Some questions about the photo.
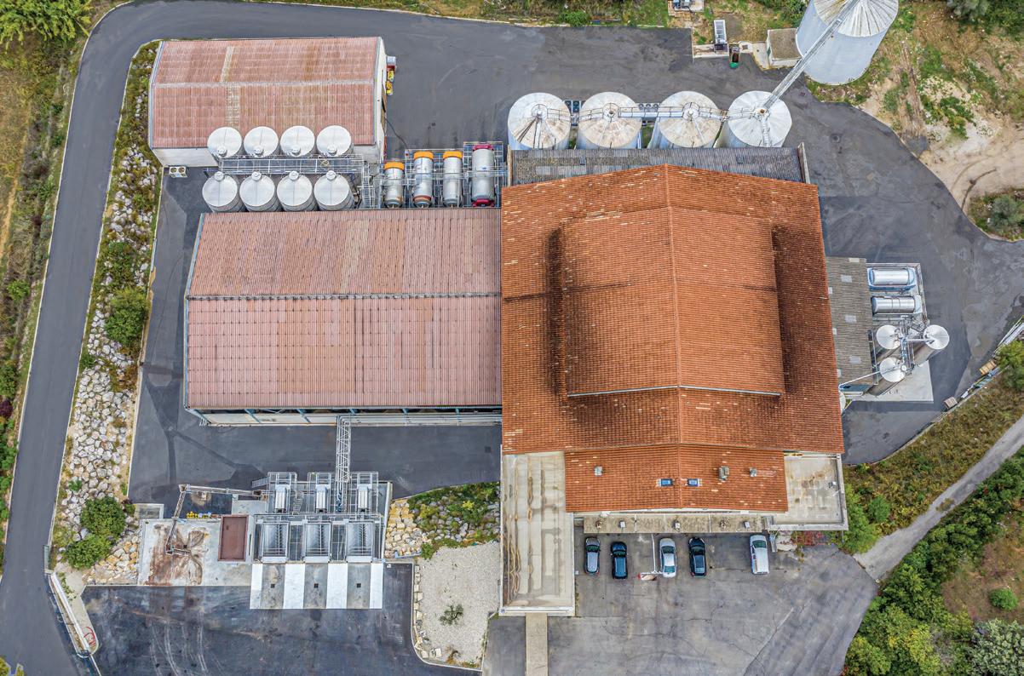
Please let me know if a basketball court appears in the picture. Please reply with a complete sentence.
No, no basketball court is visible in the scene.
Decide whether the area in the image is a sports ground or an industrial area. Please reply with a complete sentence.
It's an industrial area.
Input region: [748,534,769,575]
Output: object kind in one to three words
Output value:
vehicle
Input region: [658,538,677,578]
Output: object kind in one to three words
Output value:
car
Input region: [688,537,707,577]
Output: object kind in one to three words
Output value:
car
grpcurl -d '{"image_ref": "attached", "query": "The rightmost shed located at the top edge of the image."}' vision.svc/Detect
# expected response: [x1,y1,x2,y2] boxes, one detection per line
[766,29,805,68]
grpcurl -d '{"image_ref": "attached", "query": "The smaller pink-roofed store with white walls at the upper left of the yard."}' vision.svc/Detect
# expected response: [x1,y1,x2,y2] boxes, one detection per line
[149,37,386,165]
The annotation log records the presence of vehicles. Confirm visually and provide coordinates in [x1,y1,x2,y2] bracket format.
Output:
[610,543,629,580]
[583,538,601,575]
[688,537,707,577]
[748,534,769,575]
[658,538,677,578]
